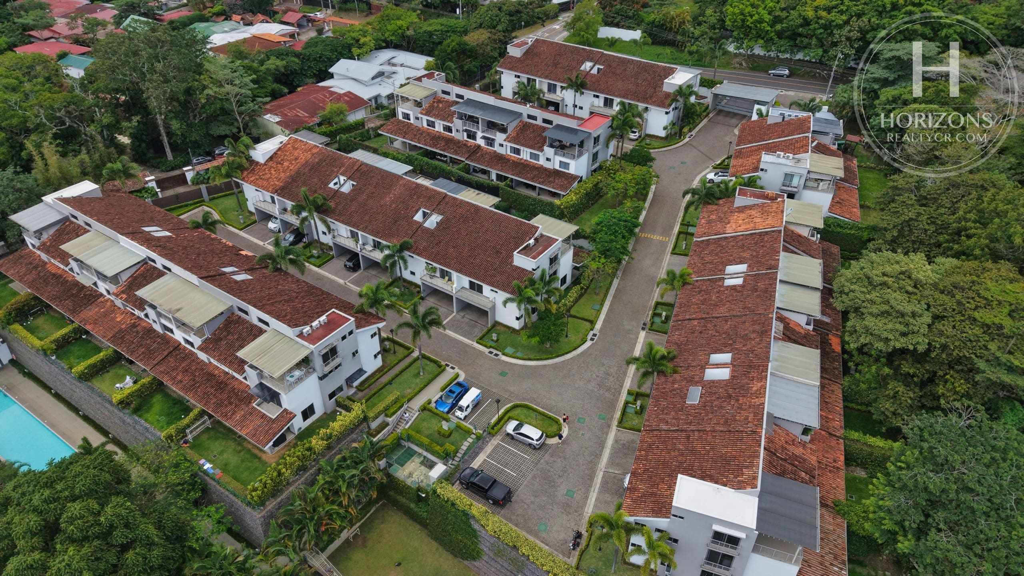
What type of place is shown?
residential area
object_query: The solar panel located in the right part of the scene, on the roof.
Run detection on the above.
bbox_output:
[686,383,701,400]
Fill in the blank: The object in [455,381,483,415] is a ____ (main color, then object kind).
white truck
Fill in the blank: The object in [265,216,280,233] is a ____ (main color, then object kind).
white car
